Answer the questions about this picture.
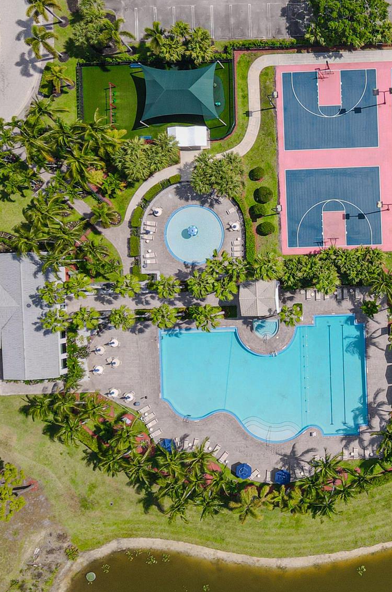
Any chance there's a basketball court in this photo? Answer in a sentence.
Yes, the picture does show a basketball court.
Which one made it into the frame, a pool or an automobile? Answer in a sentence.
I can see a pool in this picture.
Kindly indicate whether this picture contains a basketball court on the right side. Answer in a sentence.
Yes, the scene does show a basketball court on the right side.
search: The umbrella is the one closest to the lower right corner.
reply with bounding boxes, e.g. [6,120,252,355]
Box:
[275,469,292,484]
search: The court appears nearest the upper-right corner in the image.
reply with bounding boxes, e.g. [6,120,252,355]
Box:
[282,68,378,151]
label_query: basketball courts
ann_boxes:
[284,165,382,248]
[282,68,378,151]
